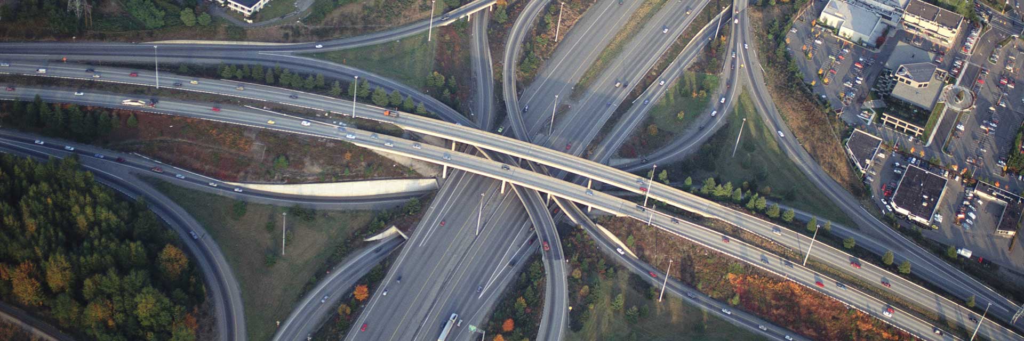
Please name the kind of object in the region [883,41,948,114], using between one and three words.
building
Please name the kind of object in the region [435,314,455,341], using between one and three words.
vehicle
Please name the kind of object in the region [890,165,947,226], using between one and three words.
building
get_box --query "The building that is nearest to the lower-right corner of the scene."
[973,180,1024,236]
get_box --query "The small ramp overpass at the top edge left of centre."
[432,0,500,26]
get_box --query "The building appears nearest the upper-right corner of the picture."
[897,0,963,50]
